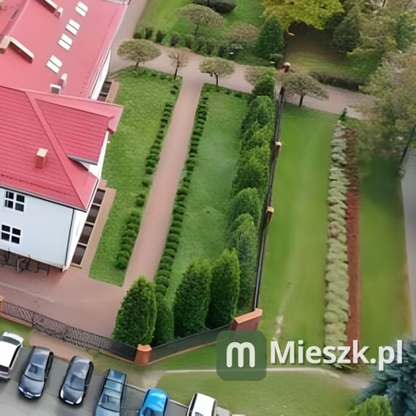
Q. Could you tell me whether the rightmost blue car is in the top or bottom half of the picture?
bottom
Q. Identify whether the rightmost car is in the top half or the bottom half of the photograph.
bottom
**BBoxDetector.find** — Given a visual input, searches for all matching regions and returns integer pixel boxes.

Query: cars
[89,367,133,416]
[54,353,99,411]
[0,333,27,385]
[137,384,176,416]
[182,385,221,416]
[14,345,59,403]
